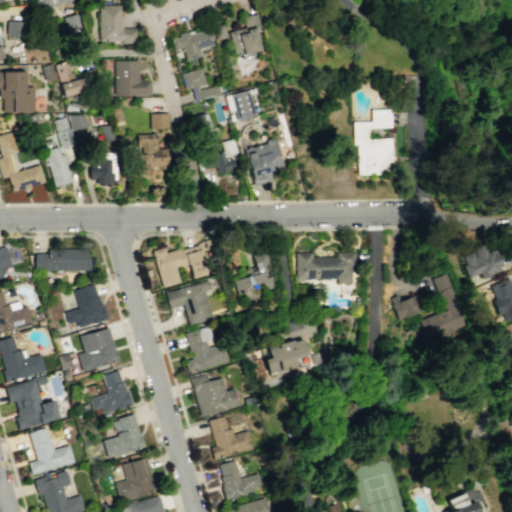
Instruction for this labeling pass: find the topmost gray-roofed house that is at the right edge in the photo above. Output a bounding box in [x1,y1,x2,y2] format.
[466,248,508,282]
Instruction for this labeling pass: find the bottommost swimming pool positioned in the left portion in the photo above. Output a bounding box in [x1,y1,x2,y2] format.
[52,375,65,397]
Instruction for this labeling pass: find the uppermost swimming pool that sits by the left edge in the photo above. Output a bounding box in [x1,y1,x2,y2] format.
[14,284,40,309]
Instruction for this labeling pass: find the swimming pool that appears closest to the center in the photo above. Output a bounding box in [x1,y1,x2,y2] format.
[328,290,351,308]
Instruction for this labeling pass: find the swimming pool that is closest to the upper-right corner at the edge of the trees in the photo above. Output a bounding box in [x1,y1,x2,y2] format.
[355,90,372,116]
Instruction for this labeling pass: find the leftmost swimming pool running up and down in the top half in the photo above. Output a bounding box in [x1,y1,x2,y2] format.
[214,102,227,123]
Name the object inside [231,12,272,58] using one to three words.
house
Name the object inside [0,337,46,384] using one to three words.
house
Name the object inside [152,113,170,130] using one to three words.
building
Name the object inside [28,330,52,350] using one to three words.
swimming pool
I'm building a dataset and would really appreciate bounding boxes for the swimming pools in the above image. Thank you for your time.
[14,284,40,309]
[355,90,372,116]
[415,495,432,512]
[328,290,351,308]
[28,330,52,350]
[52,375,65,397]
[214,102,227,123]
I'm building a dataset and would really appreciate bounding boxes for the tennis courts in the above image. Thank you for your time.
[358,461,404,512]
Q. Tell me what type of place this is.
residential area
